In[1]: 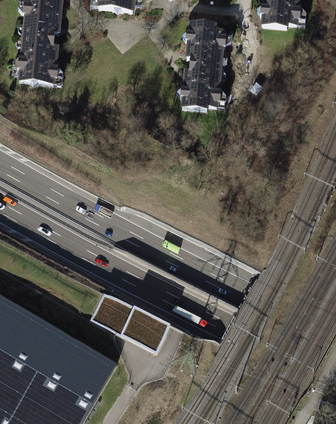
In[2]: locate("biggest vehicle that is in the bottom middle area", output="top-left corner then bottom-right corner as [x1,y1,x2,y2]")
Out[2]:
[171,304,207,328]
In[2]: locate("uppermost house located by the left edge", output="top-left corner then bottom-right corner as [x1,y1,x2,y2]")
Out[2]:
[14,0,66,84]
